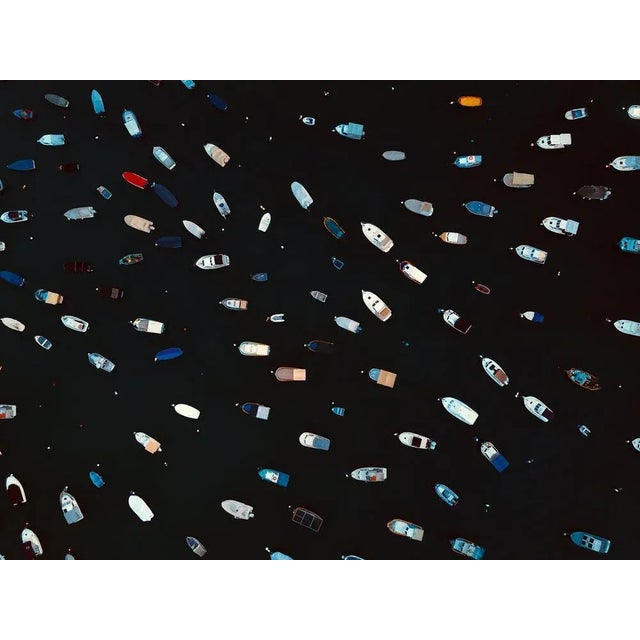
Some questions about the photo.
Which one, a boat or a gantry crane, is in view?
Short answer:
boat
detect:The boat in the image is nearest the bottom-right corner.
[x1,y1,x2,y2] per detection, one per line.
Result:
[569,531,610,552]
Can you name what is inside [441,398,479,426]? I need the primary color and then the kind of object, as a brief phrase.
white boat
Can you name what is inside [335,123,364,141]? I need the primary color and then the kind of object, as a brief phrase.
blue boat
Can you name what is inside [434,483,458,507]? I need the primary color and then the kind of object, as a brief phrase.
blue boat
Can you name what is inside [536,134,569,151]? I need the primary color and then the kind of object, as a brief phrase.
white boat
